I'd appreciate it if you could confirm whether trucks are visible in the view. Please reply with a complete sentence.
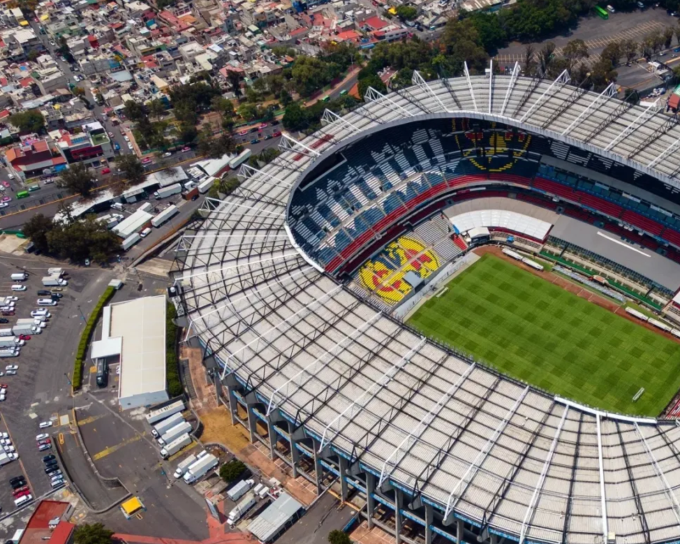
Yes, a truck appears in the view.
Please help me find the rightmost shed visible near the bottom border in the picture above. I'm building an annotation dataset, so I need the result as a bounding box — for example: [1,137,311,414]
[247,493,306,544]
